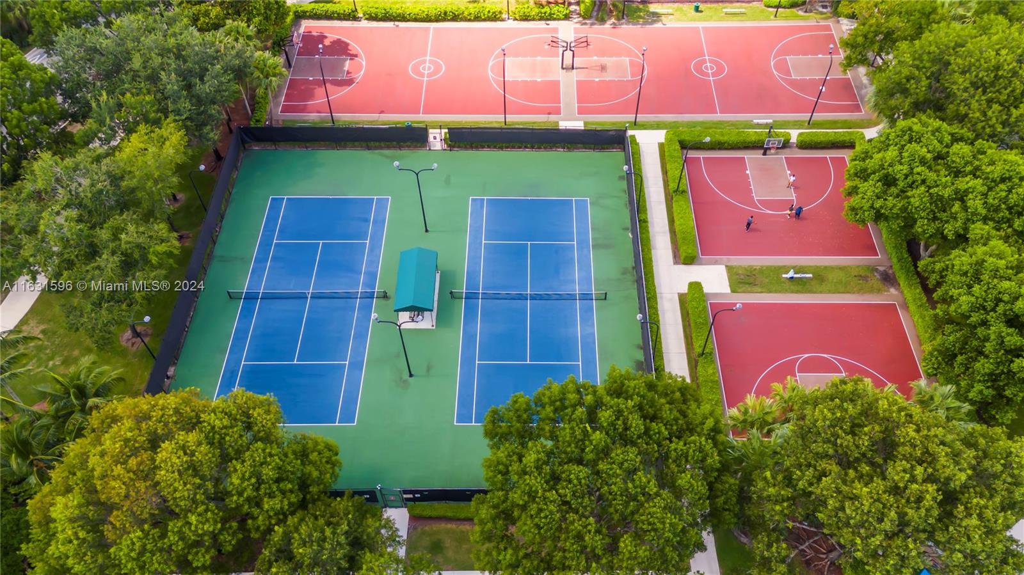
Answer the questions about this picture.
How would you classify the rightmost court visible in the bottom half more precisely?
basketball court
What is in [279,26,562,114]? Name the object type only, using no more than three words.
basketball court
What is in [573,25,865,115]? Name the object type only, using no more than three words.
basketball court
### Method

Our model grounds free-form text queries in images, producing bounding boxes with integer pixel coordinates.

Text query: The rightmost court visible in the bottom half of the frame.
[709,301,944,440]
